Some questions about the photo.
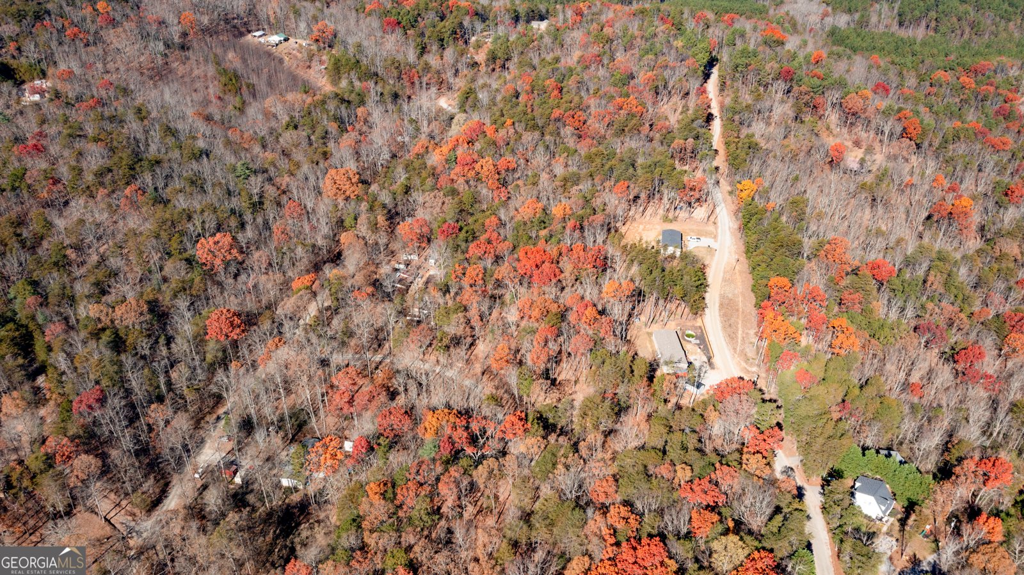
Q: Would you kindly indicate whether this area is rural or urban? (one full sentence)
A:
The land in this view is best described as rural.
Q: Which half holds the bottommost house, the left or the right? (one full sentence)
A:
You can find the bottommost house on the right side of the picture.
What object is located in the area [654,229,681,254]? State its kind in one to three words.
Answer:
house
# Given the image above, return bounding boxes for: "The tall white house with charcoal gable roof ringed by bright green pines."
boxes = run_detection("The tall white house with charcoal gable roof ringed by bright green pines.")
[854,477,897,535]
